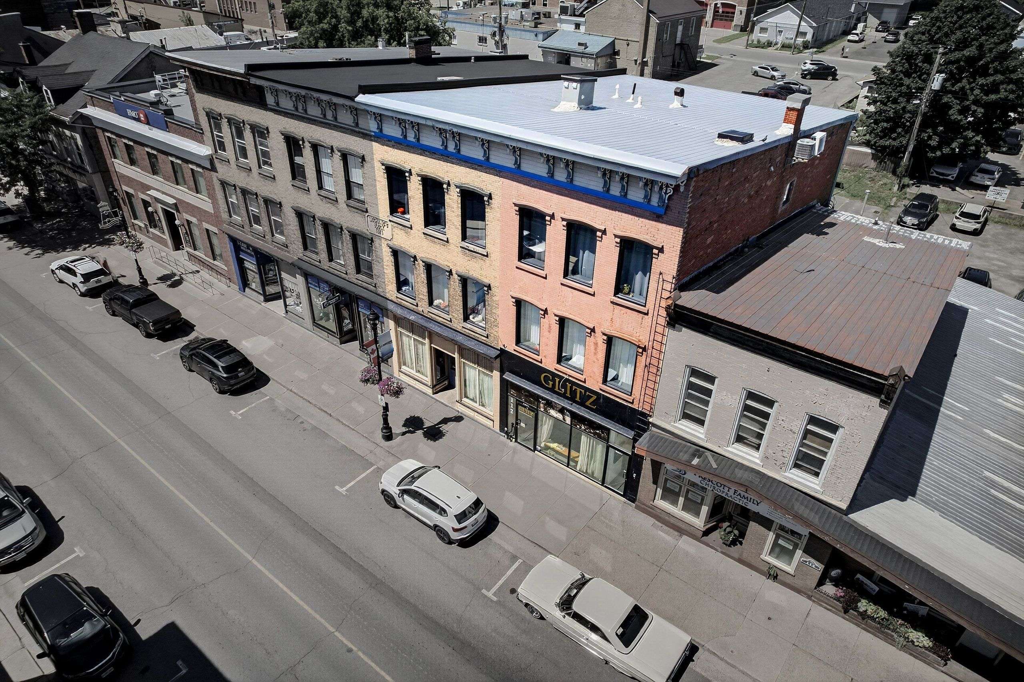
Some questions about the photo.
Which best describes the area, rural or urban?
urban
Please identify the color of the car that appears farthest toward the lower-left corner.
black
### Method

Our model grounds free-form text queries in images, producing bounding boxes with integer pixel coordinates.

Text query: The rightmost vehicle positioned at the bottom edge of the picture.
[517,555,695,682]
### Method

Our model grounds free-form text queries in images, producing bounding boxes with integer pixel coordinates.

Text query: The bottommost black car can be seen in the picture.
[10,565,142,682]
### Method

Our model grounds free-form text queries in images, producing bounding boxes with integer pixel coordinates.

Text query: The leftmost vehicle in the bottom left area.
[0,473,53,570]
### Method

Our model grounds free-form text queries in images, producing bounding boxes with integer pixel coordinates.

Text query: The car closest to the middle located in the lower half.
[379,460,489,545]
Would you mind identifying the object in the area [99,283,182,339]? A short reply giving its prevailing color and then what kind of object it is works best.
black truck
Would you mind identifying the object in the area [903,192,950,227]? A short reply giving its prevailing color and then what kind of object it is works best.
black car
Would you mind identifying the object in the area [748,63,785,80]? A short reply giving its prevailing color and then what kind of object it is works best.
gray car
